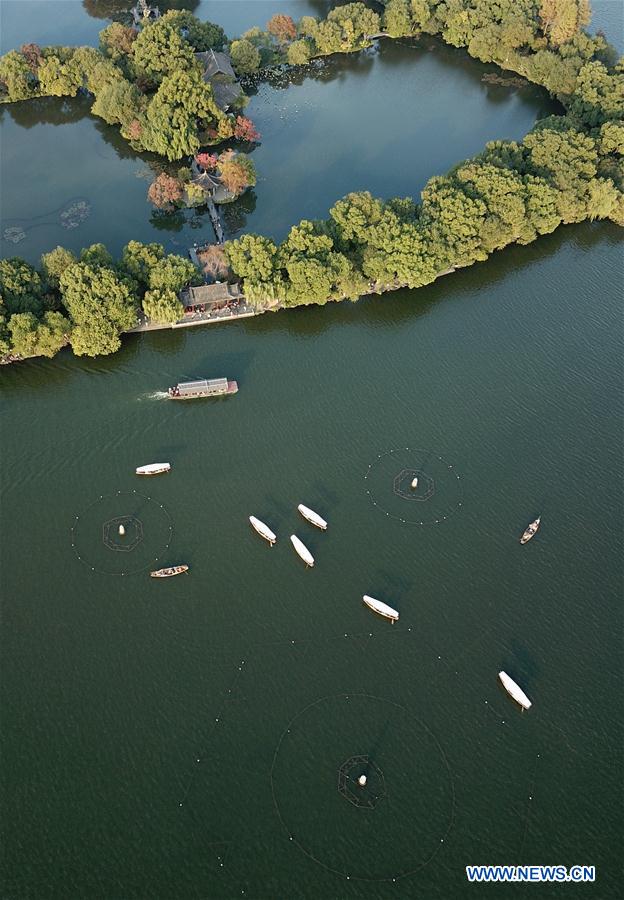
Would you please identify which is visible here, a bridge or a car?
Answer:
bridge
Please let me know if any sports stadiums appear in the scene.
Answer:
No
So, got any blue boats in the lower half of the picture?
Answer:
No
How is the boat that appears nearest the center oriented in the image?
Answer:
at an angle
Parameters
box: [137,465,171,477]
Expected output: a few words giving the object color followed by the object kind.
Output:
white boat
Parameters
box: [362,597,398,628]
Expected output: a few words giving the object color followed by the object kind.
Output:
white boat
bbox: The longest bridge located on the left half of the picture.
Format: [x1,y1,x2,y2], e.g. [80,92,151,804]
[188,185,226,266]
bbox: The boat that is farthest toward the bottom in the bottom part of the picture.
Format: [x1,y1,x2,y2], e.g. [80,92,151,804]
[497,673,531,714]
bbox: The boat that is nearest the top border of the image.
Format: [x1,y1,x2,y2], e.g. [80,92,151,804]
[168,377,238,398]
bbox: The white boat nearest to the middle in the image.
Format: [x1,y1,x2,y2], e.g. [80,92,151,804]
[298,505,328,536]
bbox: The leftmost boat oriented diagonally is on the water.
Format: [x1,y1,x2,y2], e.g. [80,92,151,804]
[249,517,277,550]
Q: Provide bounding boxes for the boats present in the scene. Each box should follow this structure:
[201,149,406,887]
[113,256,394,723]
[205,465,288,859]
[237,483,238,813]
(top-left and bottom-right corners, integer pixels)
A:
[362,597,398,628]
[149,566,190,577]
[497,673,531,714]
[290,535,315,572]
[520,513,541,545]
[249,517,277,550]
[168,377,238,398]
[137,465,171,477]
[298,505,328,536]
